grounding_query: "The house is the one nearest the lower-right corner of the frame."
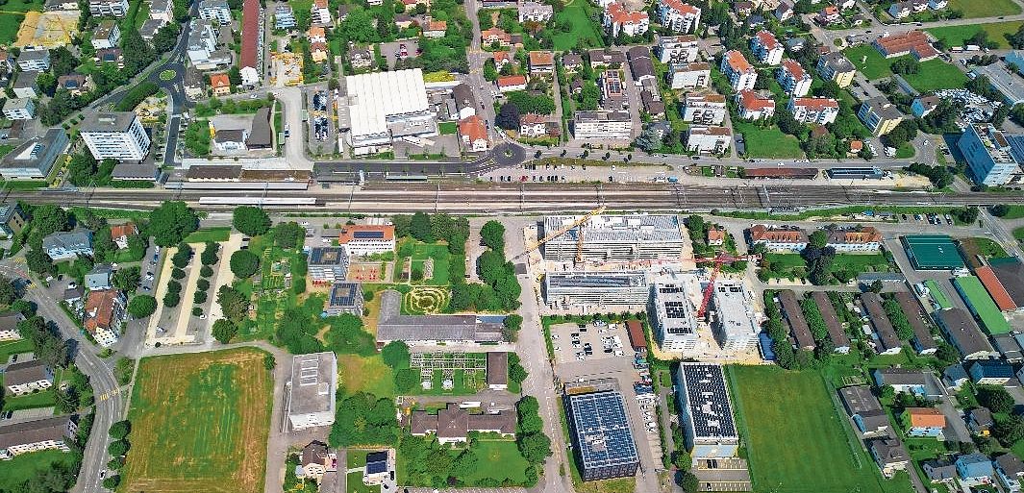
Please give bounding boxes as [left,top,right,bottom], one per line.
[991,454,1024,485]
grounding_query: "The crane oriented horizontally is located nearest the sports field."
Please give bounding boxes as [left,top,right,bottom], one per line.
[604,253,760,322]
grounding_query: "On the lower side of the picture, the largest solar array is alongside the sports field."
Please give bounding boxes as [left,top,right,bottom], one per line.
[683,366,735,435]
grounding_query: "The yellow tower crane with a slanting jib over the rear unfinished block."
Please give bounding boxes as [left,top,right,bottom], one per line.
[519,206,606,266]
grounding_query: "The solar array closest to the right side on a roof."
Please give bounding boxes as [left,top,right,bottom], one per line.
[1001,136,1024,172]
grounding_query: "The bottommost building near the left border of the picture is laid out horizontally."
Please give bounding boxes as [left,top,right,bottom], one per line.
[0,413,77,458]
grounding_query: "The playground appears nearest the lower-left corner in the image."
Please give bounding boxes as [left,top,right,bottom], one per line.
[297,272,334,306]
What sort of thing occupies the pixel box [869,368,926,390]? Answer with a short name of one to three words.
house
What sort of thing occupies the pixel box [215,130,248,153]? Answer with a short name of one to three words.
building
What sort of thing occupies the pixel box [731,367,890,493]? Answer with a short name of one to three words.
sports field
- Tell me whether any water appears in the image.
No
